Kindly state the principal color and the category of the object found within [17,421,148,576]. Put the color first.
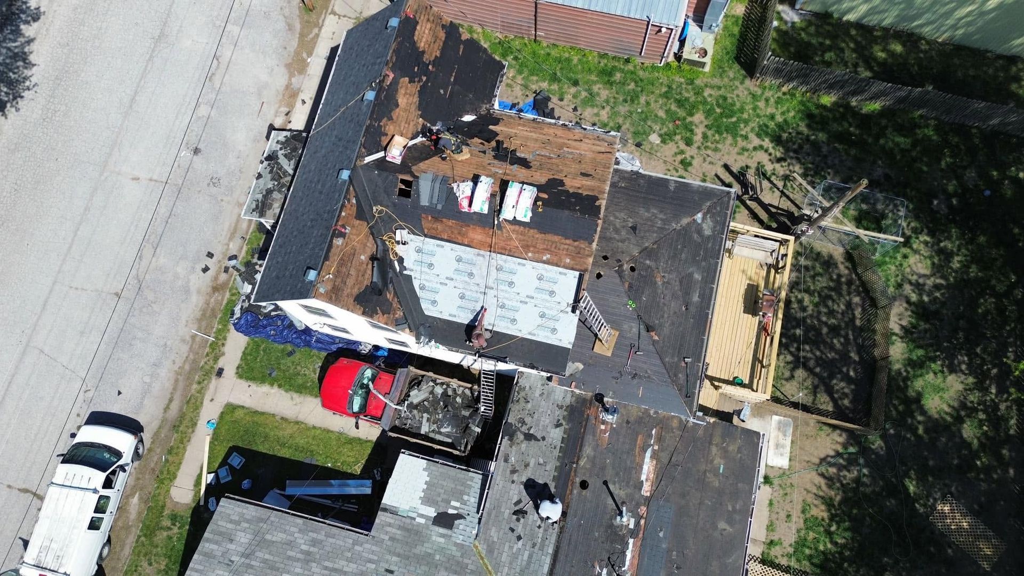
white van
